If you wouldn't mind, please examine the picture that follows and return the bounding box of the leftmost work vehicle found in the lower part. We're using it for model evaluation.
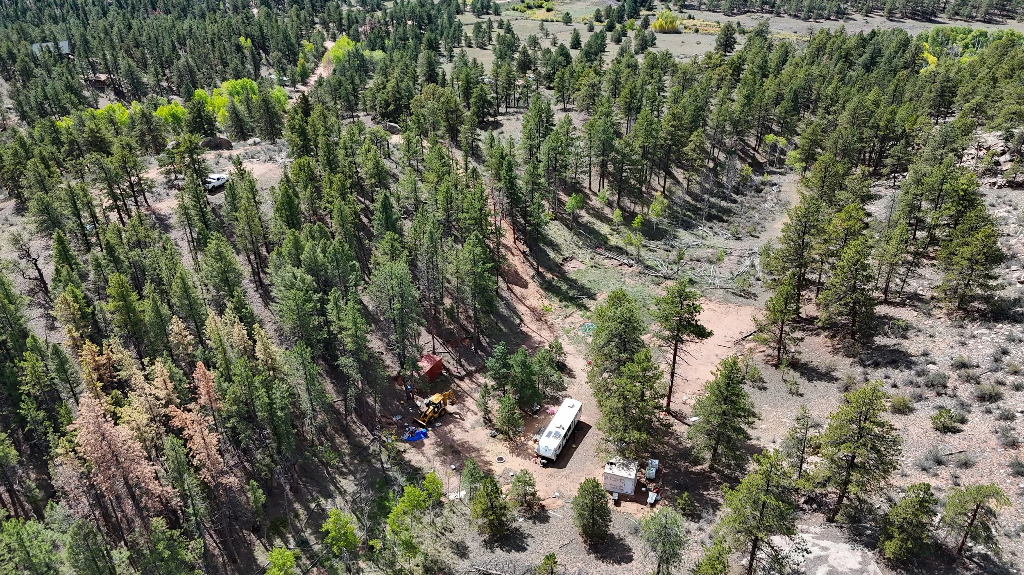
[412,386,456,427]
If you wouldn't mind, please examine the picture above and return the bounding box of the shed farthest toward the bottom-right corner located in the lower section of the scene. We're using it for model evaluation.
[603,456,638,493]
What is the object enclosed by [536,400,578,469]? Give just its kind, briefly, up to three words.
trailer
